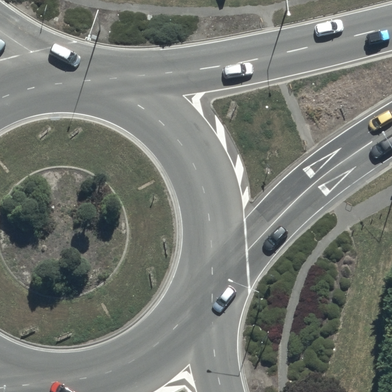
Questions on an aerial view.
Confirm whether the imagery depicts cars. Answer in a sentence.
Yes, I can see a car in this picture.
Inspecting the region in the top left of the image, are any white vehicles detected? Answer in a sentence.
Yes, the scene does show a white vehicle in the top left of the image.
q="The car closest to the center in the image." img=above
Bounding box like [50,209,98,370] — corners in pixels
[262,226,290,254]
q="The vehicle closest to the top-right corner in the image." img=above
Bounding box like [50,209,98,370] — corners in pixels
[366,30,390,44]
